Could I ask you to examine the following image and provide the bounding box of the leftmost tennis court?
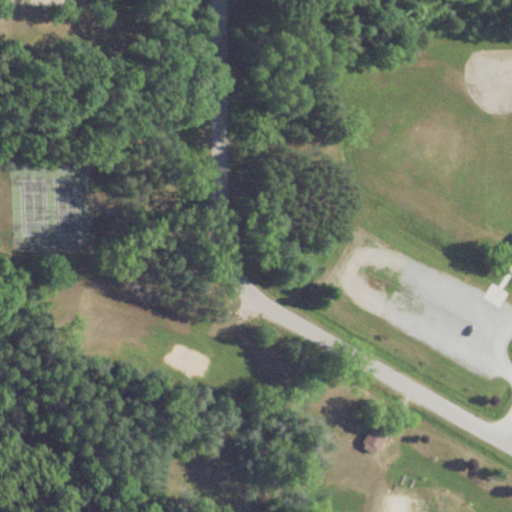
[12,170,52,249]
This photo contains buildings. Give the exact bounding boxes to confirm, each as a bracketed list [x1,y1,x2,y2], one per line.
[362,434,390,456]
